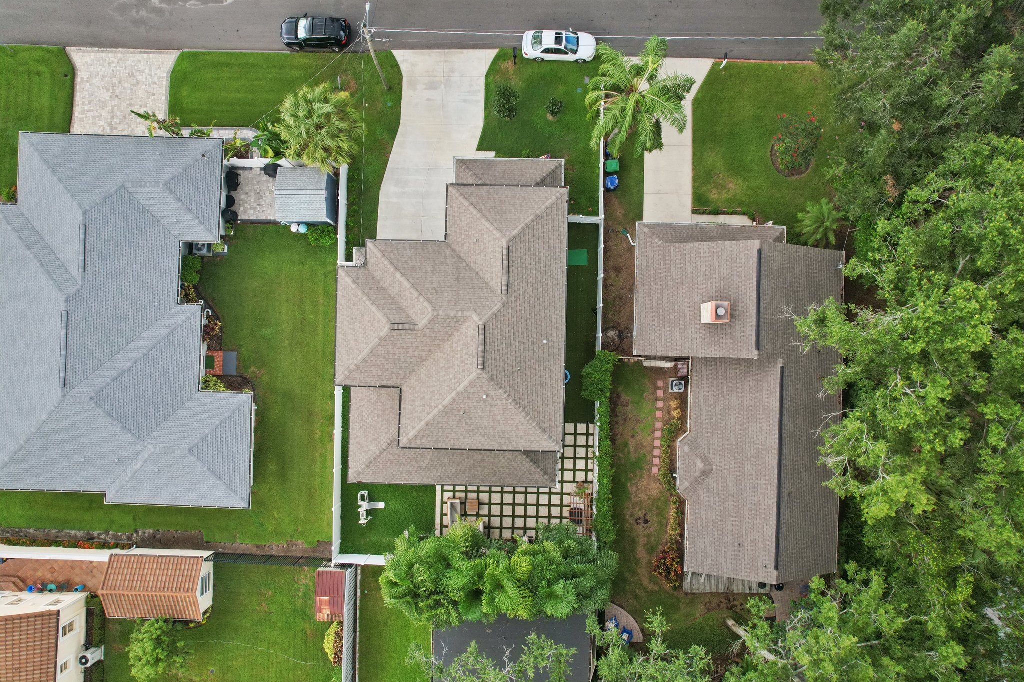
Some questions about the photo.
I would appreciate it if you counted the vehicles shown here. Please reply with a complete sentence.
Altogether the scene contains 2 vehicles.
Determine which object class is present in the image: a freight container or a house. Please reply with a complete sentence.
It is a house that can be seen here.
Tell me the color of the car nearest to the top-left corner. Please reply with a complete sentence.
The car nearest to the top-left corner is black.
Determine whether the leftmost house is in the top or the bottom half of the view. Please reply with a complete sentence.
The bottom half of the photo is where the leftmost house is.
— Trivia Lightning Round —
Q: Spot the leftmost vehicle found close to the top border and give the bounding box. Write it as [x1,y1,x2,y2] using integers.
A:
[280,13,351,54]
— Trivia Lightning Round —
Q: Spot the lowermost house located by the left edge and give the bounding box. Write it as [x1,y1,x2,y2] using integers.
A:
[0,593,87,682]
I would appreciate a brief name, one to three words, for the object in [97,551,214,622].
building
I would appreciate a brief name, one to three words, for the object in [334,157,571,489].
house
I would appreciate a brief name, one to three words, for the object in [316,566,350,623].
shed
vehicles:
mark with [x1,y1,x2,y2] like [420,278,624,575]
[524,27,597,65]
[280,13,351,54]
